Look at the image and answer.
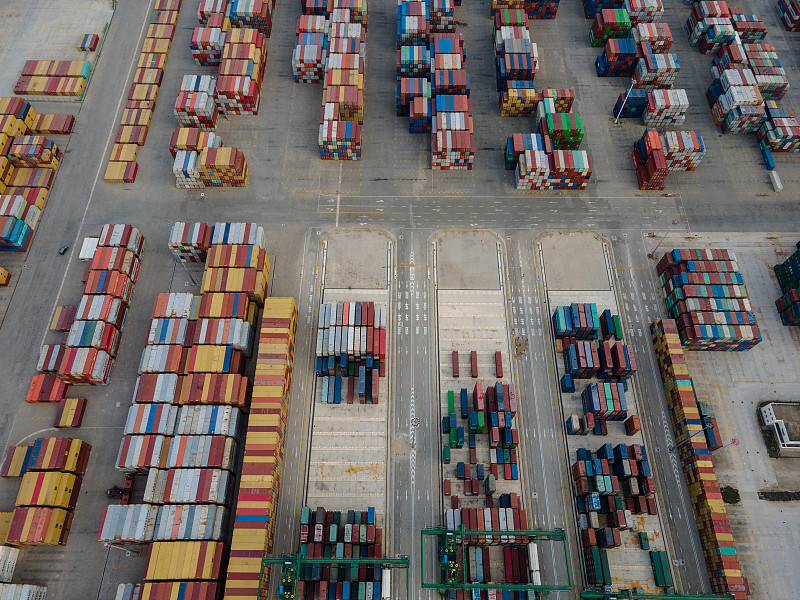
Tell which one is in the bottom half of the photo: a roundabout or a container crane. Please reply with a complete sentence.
Looking in the bottom half of the photo, you will find a container crane.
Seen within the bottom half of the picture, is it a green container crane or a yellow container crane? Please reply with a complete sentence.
Visible within the bottom half of the picture is a green container crane.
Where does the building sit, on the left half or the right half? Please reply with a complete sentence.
The building is on the right side of the image.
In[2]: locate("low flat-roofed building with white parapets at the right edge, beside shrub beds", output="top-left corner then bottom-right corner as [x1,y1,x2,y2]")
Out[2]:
[753,402,800,451]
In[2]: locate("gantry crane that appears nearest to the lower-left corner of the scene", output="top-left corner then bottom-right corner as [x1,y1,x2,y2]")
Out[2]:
[259,550,410,600]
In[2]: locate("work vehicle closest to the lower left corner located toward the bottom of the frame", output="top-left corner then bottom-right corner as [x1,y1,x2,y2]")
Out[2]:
[104,476,134,505]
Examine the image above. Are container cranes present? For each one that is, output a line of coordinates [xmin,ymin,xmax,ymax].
[580,585,736,600]
[259,550,410,600]
[421,522,574,596]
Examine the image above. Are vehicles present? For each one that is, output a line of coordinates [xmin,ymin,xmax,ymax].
[57,246,67,255]
[383,564,390,598]
[529,537,541,585]
[104,476,134,505]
